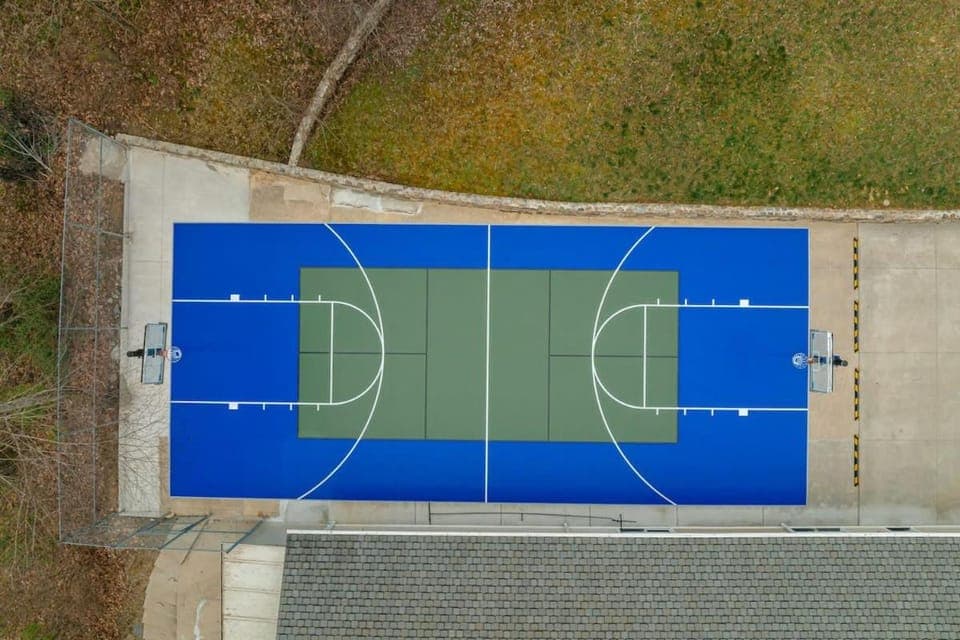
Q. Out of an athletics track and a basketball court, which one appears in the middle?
basketball court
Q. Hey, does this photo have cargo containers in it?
No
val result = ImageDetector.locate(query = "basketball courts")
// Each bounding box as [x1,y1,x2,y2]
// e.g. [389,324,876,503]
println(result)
[170,222,809,504]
